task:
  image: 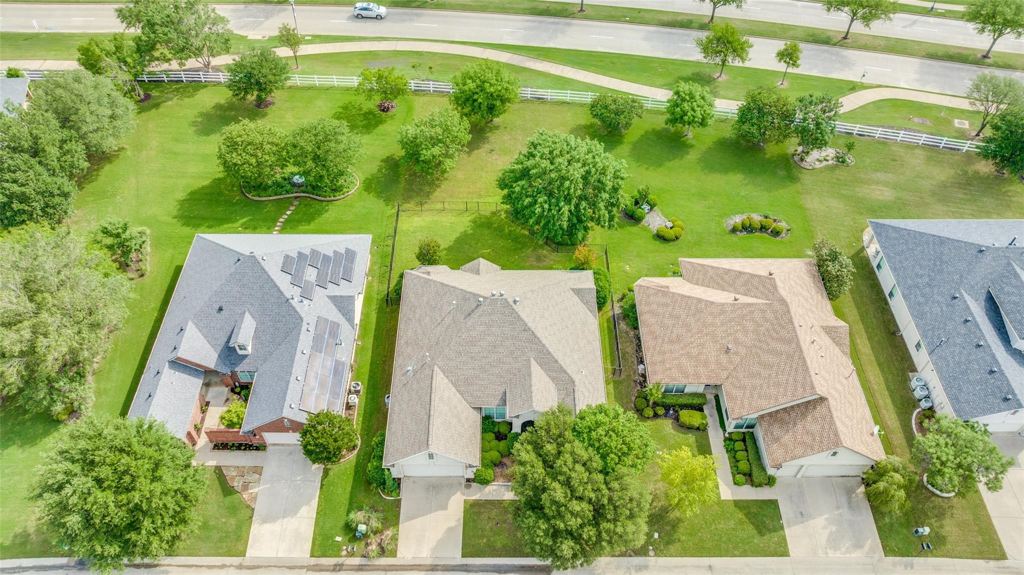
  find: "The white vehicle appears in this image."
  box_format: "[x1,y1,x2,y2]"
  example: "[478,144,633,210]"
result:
[352,3,388,21]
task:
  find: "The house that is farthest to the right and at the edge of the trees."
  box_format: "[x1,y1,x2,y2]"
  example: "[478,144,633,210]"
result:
[866,219,1024,434]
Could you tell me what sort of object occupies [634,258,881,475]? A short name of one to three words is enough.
house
